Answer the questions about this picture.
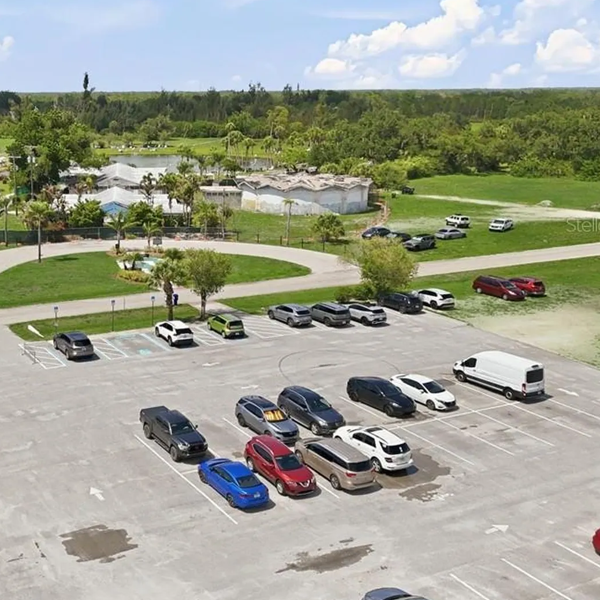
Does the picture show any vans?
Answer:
Yes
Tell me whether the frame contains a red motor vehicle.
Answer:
Yes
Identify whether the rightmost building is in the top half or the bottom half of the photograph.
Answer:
top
